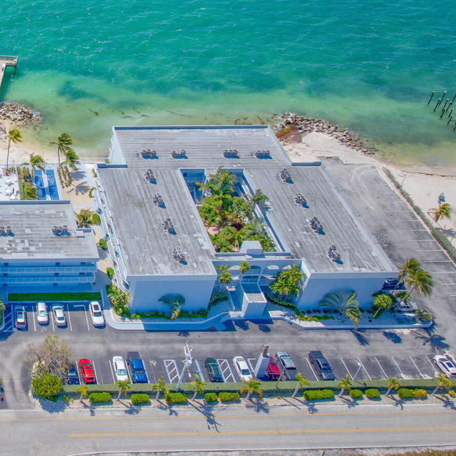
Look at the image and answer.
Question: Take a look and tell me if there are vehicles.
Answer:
Yes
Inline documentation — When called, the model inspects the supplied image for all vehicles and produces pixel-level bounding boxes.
[268,355,285,382]
[203,357,225,384]
[13,306,28,329]
[232,354,253,383]
[35,300,50,325]
[431,353,456,380]
[64,361,81,386]
[89,301,104,327]
[111,355,129,383]
[273,351,298,383]
[391,300,423,312]
[52,304,66,328]
[78,358,96,385]
[127,351,148,385]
